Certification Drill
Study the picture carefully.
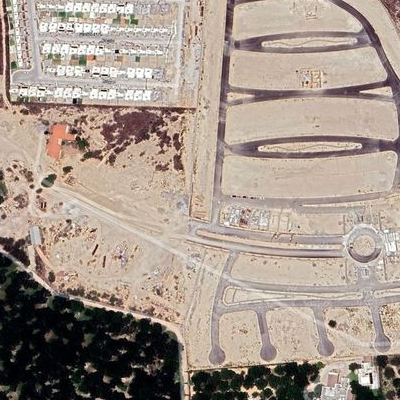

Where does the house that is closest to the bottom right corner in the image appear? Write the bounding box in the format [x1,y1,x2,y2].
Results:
[359,358,378,389]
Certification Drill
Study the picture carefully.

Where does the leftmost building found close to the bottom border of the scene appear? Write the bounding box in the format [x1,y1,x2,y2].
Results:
[320,373,353,400]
